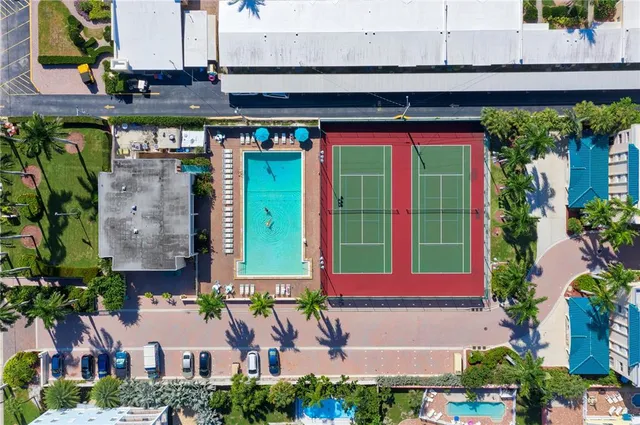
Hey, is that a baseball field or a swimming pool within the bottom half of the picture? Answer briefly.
swimming pool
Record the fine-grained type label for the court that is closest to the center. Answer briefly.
tennis court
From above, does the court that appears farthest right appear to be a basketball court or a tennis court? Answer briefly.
tennis court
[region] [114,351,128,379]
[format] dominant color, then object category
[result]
blue vehicle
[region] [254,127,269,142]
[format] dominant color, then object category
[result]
blue umbrella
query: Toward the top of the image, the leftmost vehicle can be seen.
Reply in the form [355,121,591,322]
[77,63,95,86]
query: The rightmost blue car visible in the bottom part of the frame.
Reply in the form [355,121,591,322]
[268,348,281,376]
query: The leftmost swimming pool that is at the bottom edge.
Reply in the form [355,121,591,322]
[302,396,356,419]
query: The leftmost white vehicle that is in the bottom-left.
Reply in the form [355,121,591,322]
[139,339,157,377]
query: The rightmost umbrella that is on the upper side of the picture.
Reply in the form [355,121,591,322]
[294,127,309,142]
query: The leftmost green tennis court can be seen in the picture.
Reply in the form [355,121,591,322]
[328,145,398,273]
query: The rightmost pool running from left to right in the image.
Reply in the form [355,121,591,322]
[446,401,506,422]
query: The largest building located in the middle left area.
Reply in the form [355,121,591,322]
[99,159,198,270]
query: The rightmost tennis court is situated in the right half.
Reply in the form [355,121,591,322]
[407,145,478,273]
